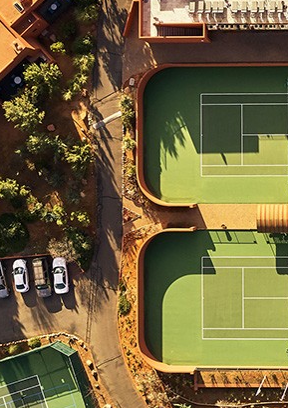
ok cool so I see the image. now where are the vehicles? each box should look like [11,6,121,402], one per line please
[12,258,31,292]
[52,258,71,293]
[0,262,11,297]
[32,257,54,297]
